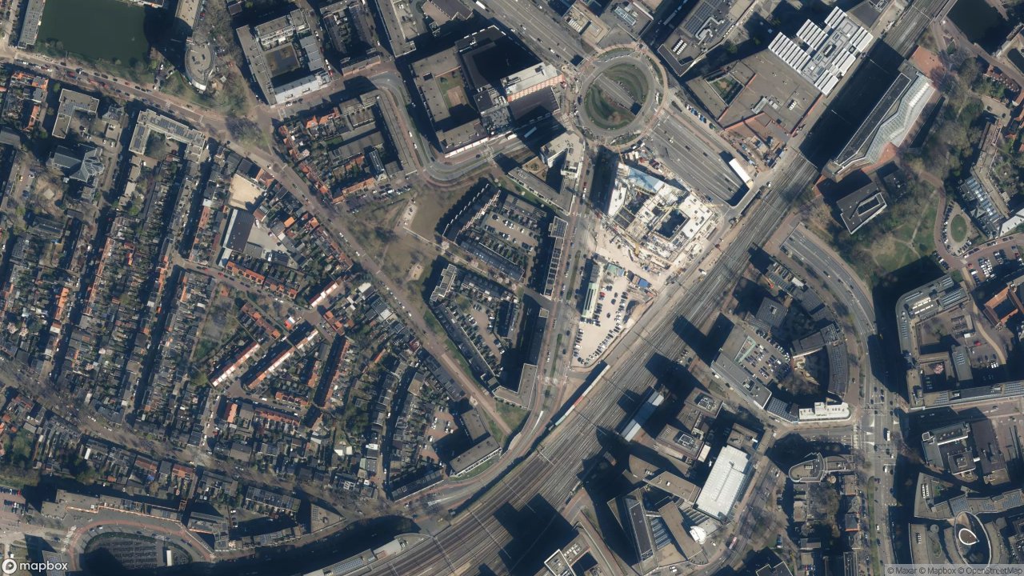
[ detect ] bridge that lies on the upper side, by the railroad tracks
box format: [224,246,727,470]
[704,167,816,284]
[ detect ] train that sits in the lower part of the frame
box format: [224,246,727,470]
[545,366,610,431]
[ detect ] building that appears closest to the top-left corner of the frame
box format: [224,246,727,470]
[18,0,46,50]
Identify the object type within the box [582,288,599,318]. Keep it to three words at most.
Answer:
shed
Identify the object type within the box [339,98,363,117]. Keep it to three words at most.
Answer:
building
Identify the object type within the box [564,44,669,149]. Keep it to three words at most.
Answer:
roundabout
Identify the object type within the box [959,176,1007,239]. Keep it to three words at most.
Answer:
greenhouse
